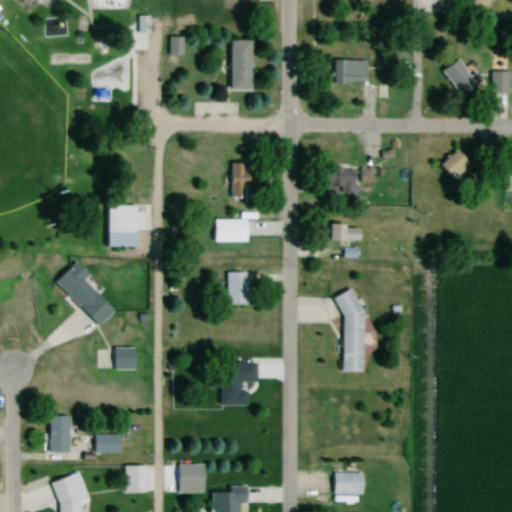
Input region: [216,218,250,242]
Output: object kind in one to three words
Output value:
barn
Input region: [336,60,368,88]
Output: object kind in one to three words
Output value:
house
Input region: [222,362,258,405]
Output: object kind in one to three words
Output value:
house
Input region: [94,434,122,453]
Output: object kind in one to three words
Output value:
building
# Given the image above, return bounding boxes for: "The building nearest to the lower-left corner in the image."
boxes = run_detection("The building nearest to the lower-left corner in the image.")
[50,474,88,512]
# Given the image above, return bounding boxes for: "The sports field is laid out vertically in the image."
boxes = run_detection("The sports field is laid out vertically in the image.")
[0,26,66,212]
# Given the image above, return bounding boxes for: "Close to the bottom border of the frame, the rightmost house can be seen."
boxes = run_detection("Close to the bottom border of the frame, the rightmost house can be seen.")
[335,472,366,505]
